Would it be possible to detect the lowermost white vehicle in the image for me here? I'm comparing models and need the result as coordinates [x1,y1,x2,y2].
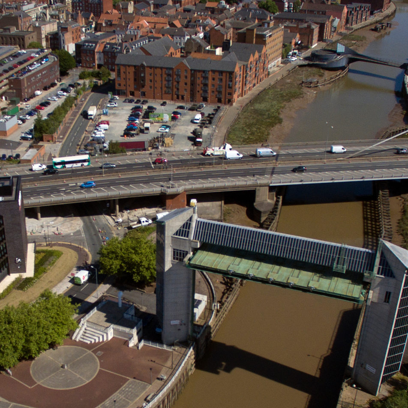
[73,268,90,285]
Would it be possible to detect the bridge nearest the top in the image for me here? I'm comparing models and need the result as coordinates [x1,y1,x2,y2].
[304,42,405,75]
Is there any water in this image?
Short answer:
Yes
